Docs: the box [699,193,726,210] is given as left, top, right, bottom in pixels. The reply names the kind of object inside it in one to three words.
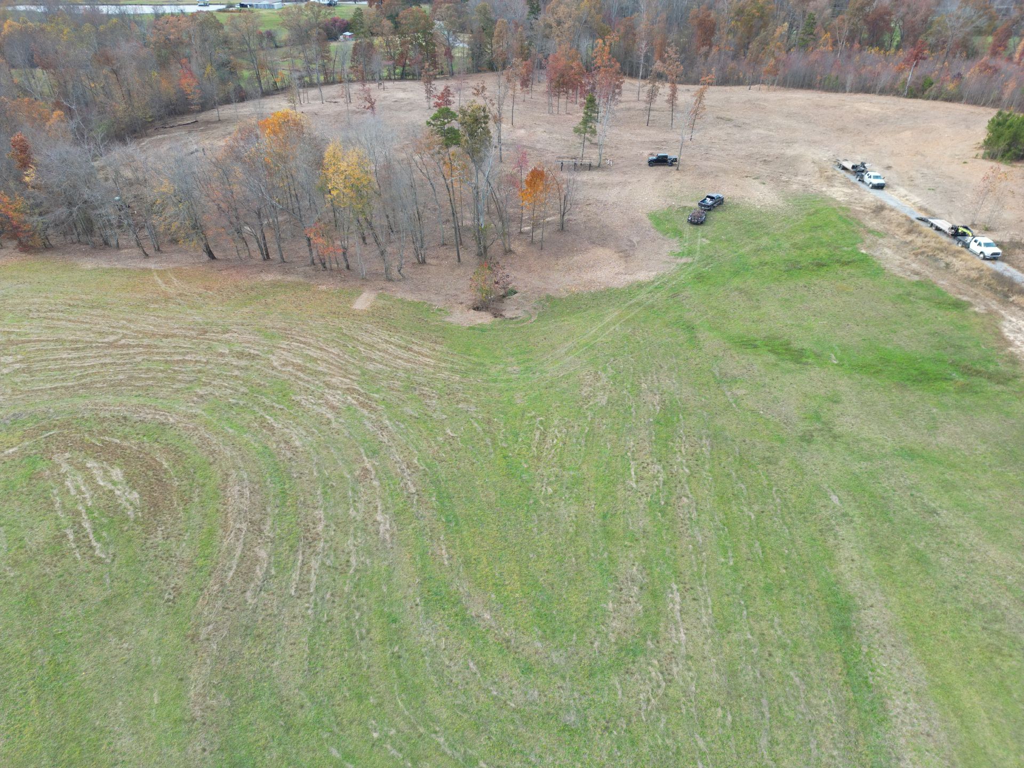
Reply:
vehicle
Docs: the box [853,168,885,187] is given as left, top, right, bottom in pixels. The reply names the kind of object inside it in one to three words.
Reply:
vehicle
